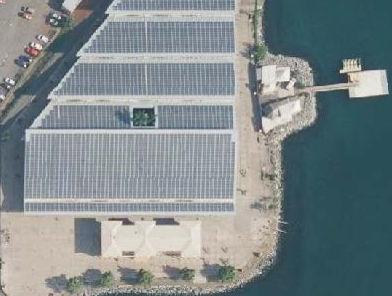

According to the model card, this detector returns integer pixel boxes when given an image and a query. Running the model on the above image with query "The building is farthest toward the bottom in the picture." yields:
[101,220,200,257]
